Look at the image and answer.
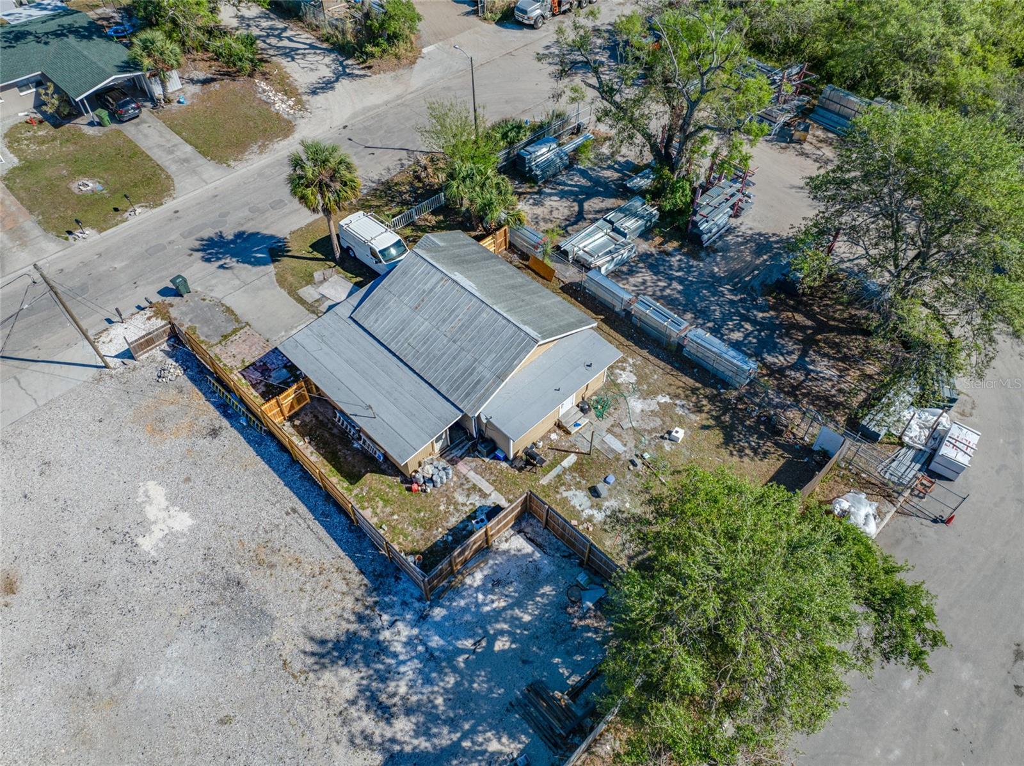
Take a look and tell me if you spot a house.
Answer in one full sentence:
Yes, the image includes a house.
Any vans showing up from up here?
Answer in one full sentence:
Yes, a van is visible in the scene.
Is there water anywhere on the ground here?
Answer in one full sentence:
No, no water is visible.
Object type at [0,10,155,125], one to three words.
house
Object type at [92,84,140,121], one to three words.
car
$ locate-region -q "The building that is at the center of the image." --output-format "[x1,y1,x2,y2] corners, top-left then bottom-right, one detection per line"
[277,231,617,478]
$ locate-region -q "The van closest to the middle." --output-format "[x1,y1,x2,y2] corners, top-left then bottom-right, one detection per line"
[340,211,413,278]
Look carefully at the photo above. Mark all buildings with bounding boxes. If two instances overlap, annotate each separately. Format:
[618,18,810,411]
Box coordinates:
[0,10,155,125]
[277,231,617,478]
